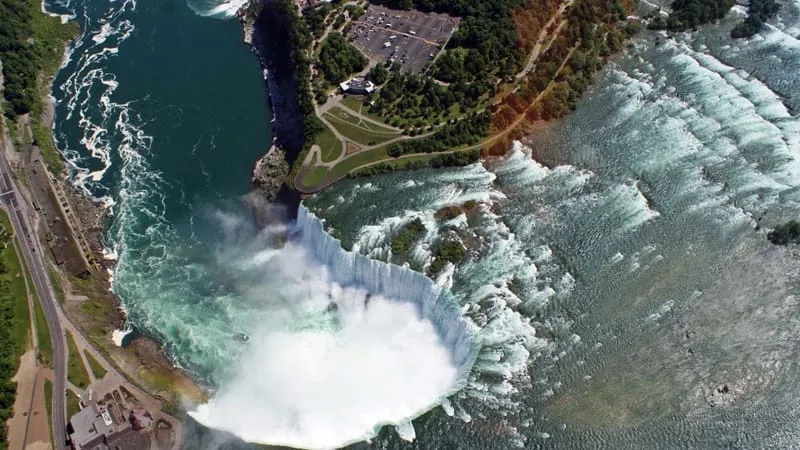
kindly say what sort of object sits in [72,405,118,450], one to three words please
building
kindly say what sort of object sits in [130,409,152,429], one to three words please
building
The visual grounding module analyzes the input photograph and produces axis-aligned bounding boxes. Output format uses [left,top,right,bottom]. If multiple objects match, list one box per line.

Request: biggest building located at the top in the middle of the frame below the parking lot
[340,78,374,99]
